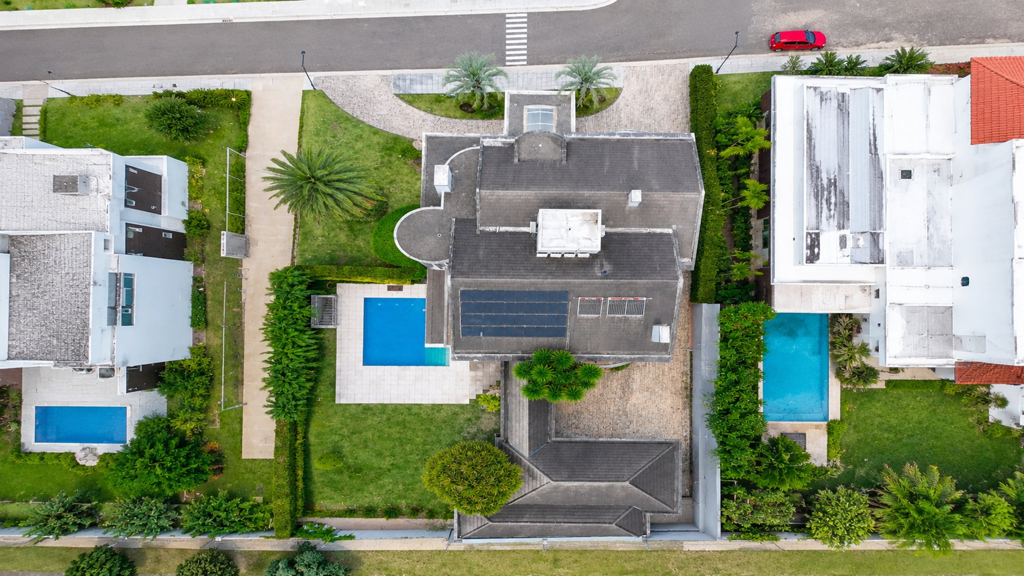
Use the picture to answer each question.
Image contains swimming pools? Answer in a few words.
Yes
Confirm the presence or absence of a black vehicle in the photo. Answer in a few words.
No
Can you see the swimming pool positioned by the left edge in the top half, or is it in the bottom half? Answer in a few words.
bottom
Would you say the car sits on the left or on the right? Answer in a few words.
right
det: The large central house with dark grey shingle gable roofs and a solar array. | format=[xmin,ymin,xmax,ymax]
[394,91,707,368]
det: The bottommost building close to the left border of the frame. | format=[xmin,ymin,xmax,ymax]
[0,136,193,394]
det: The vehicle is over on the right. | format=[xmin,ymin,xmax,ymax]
[772,25,830,54]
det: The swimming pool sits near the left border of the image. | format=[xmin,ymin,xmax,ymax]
[31,404,129,447]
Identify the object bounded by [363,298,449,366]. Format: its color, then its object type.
blue swimming pool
